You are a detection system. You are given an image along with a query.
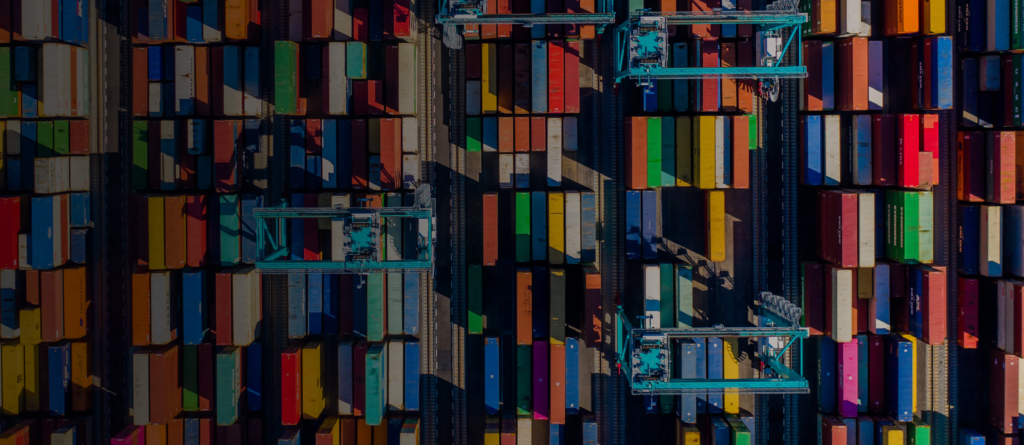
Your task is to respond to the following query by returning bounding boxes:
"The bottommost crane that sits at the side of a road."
[613,285,815,413]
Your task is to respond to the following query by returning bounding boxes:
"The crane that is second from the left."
[433,0,616,56]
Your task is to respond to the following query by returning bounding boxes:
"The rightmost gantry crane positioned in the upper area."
[611,0,812,105]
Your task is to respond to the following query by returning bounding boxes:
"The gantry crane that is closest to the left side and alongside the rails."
[253,181,439,293]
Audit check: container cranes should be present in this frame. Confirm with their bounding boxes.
[611,0,812,105]
[613,285,815,413]
[253,181,439,293]
[433,0,616,56]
